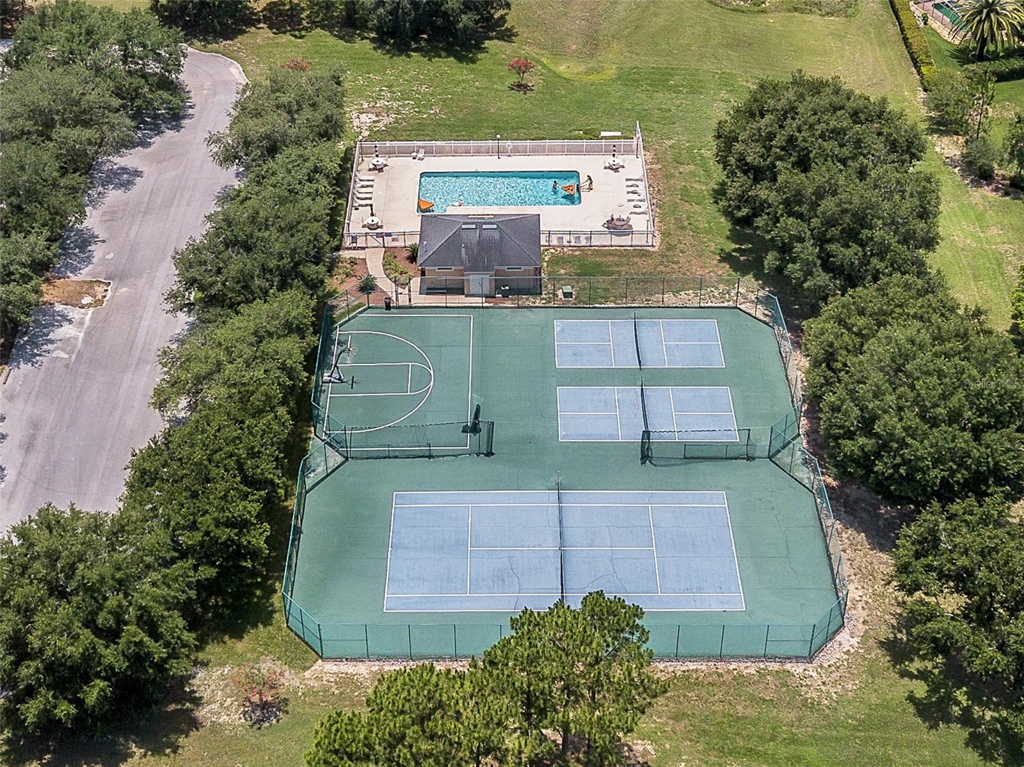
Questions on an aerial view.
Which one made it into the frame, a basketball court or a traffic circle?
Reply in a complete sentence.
I can see a basketball court in this picture.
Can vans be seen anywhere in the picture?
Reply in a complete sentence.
No, the frame has no van in it.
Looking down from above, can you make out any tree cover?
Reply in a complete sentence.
Yes, the picture does contain tree cover.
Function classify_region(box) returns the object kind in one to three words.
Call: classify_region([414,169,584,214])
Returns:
swimming pool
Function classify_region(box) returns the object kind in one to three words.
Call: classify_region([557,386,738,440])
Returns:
sports court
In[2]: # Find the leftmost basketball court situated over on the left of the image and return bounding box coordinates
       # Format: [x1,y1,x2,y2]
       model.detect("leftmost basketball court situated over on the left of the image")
[320,314,473,449]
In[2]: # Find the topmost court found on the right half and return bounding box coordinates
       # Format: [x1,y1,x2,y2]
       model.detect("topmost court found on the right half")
[554,319,725,367]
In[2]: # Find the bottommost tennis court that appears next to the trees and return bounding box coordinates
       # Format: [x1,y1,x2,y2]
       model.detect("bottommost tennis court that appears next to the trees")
[383,490,745,611]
